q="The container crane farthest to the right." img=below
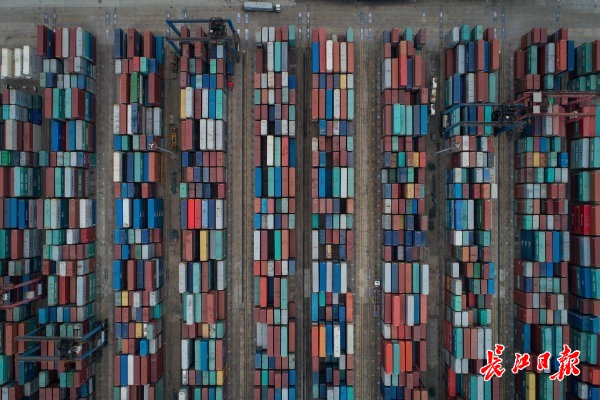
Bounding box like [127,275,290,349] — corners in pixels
[506,92,597,126]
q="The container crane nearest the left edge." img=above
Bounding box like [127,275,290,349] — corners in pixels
[0,276,46,310]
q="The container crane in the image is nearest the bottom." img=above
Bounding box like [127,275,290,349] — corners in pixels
[15,320,106,365]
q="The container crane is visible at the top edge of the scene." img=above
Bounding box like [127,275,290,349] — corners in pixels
[164,15,240,59]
